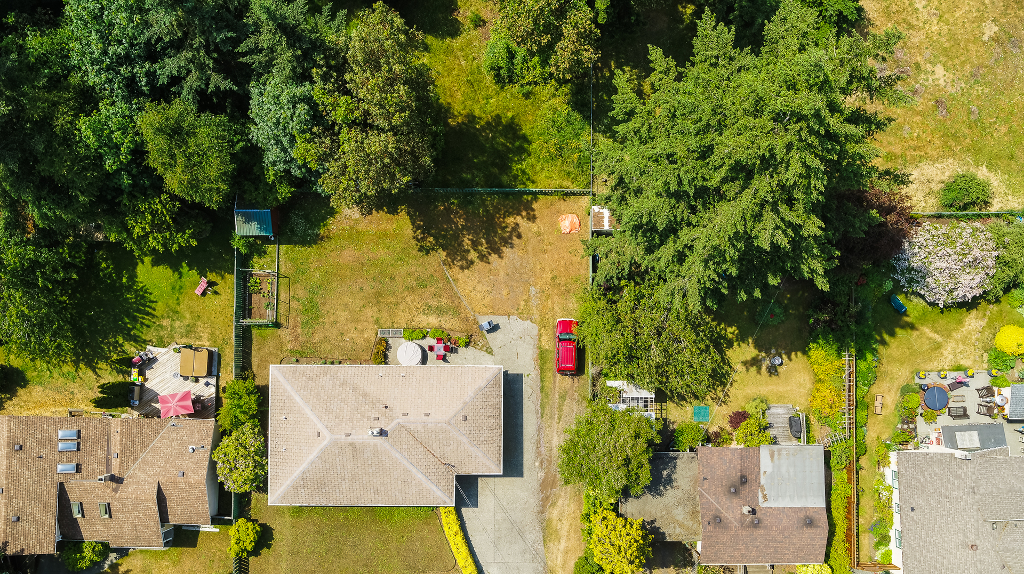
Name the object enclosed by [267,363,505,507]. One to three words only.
house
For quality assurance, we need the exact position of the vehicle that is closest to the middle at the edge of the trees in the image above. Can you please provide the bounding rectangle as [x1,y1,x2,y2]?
[554,320,578,381]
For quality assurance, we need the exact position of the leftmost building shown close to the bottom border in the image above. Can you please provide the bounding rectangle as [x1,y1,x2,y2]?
[0,416,223,556]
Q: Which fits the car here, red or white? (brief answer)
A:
red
